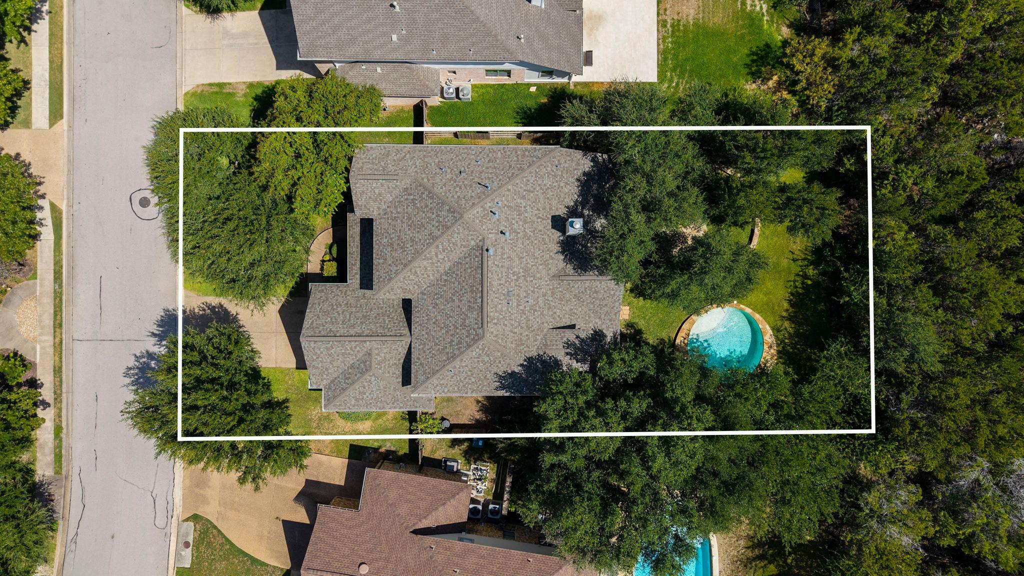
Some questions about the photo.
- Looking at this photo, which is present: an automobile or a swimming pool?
swimming pool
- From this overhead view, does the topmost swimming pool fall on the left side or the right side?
right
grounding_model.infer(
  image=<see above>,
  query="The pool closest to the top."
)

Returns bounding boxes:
[675,301,776,401]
